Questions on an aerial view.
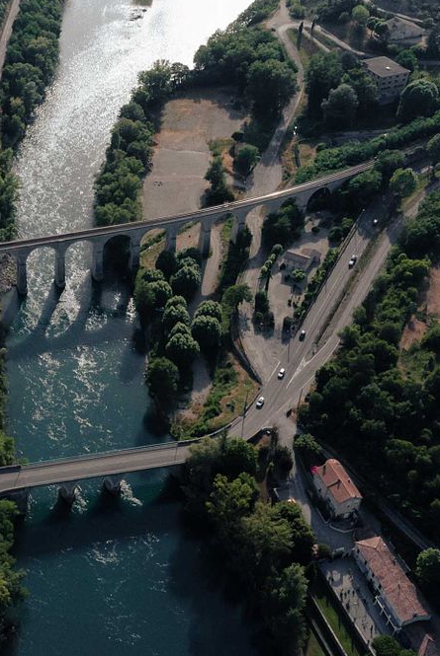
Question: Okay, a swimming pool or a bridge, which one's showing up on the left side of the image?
bridge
